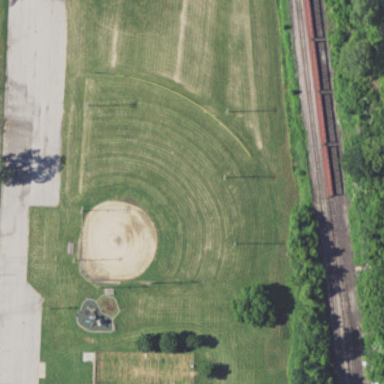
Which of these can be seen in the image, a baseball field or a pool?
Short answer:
baseball field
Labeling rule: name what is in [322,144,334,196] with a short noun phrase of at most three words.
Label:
rail car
